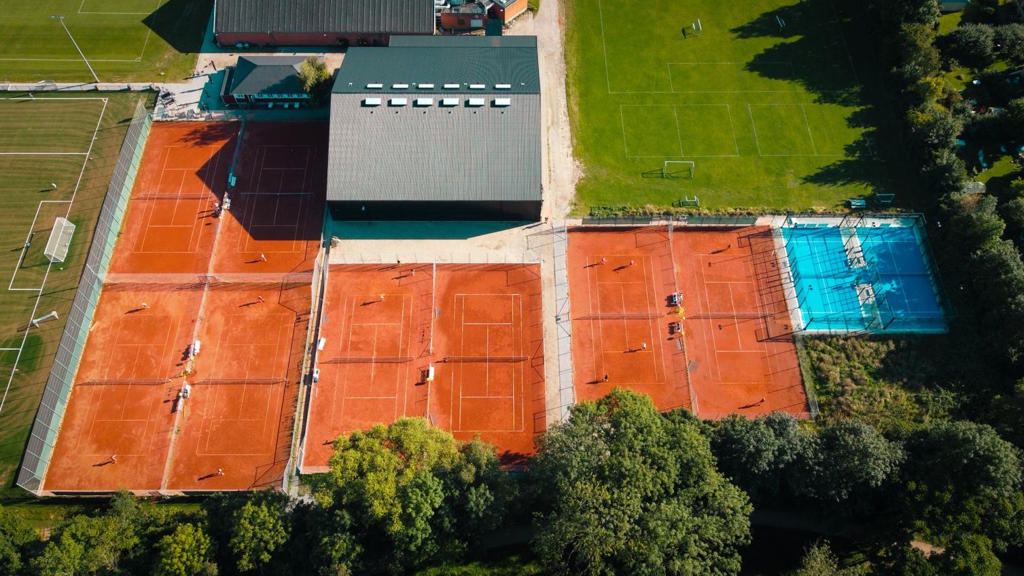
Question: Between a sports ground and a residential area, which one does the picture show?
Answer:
sports ground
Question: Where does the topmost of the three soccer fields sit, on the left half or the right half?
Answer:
left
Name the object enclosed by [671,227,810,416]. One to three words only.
tennis court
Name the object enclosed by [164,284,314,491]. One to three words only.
tennis court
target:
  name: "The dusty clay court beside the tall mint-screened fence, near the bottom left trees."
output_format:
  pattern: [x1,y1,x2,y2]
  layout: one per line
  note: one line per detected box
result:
[43,283,205,491]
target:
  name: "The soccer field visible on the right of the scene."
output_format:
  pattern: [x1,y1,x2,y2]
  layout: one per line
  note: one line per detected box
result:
[575,0,899,205]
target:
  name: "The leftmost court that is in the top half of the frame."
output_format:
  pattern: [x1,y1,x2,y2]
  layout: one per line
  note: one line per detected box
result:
[105,122,239,284]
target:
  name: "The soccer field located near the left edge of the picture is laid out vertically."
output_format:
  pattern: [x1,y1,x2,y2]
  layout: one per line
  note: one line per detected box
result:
[0,90,158,564]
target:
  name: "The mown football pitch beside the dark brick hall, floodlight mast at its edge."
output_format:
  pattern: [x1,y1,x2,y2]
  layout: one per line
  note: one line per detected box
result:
[0,0,211,83]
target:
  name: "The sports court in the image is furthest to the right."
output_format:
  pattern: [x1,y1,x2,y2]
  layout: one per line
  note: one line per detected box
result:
[855,214,959,330]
